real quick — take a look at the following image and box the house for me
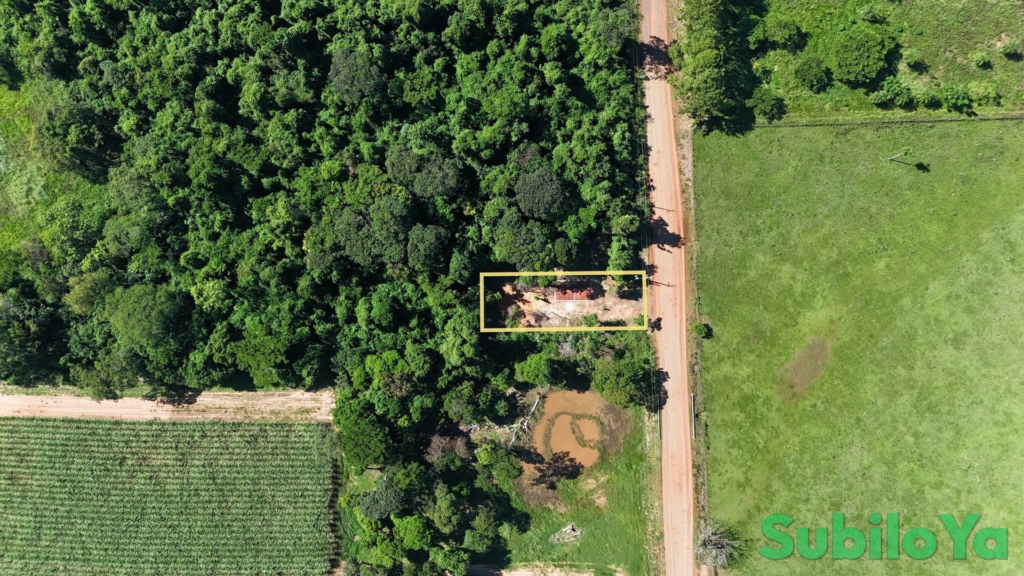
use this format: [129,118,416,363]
[555,281,594,303]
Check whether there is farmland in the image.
Yes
